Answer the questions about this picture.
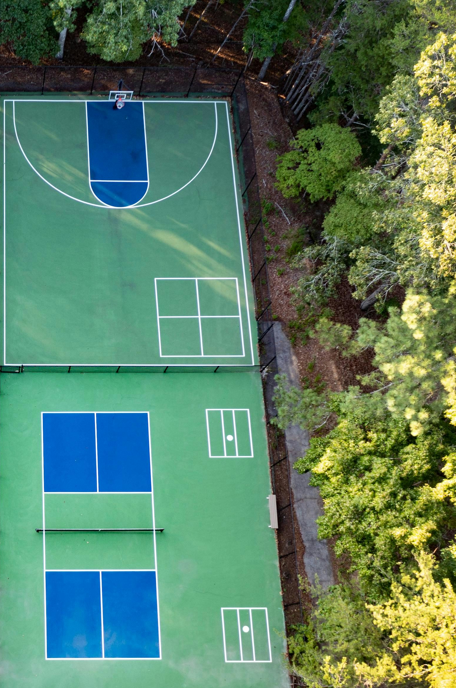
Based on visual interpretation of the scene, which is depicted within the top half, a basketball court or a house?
basketball court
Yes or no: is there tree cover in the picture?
Yes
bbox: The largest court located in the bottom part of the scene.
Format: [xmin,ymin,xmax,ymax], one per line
[42,412,162,658]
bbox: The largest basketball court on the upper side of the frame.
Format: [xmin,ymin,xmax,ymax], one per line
[3,100,254,365]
